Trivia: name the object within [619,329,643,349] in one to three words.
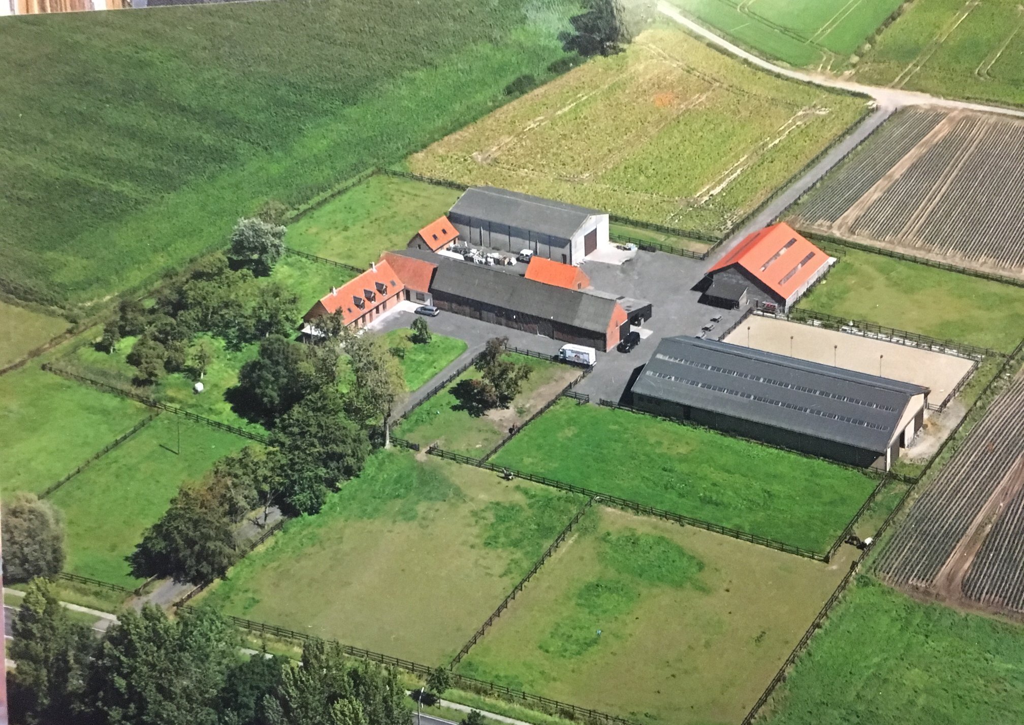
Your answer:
car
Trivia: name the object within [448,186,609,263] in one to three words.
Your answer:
building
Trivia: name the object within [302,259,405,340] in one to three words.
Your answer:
house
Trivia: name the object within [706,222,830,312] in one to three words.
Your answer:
barn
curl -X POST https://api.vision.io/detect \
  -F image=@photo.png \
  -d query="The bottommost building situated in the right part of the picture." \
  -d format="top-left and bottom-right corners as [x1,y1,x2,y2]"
[631,335,931,467]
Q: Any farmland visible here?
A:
Yes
